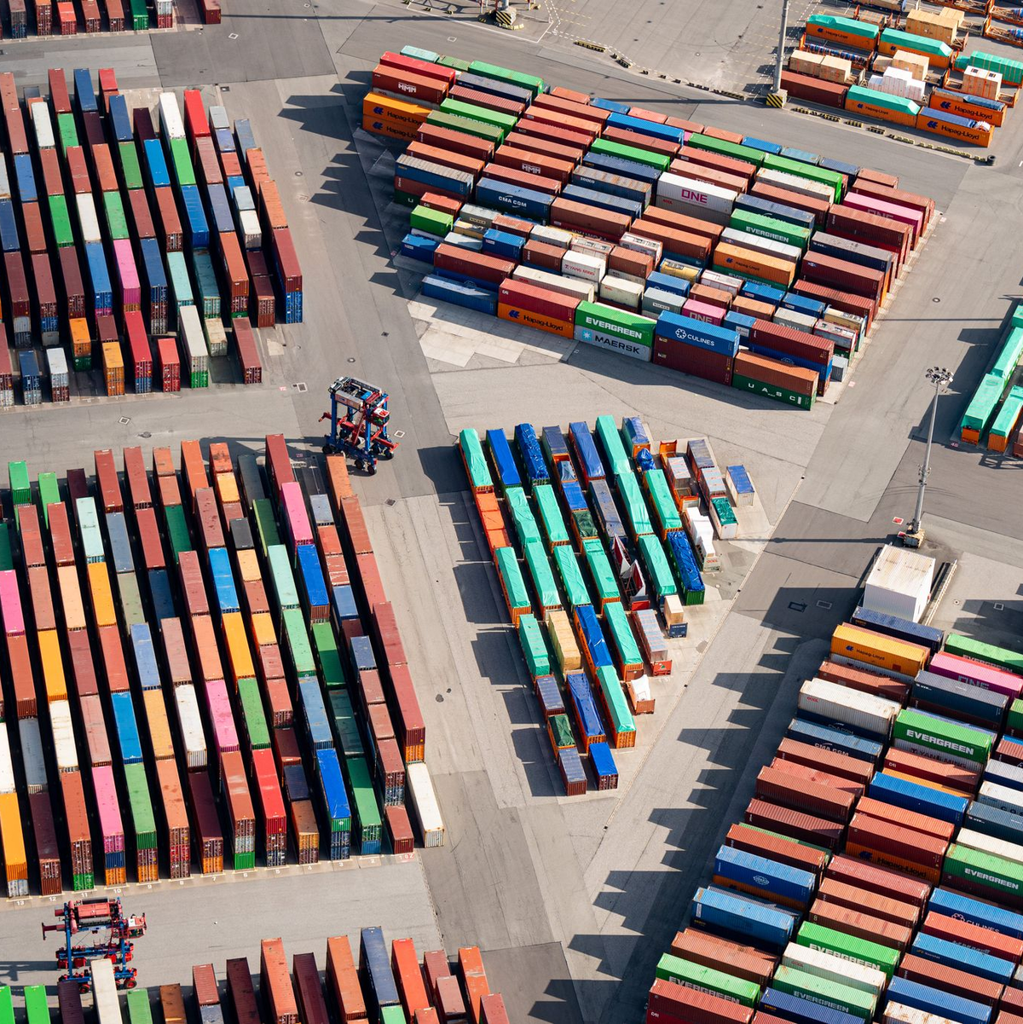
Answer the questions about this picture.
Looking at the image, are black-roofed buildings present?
No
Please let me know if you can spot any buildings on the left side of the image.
No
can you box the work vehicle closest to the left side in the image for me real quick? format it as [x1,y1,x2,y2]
[34,892,145,1001]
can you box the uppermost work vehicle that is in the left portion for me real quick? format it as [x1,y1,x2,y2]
[318,367,399,476]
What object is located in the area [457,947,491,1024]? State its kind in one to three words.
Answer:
shipping container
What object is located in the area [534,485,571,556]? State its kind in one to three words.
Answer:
shipping container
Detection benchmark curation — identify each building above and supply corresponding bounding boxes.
[863,537,937,622]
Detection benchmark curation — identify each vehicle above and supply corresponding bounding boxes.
[318,367,399,476]
[34,892,145,1001]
